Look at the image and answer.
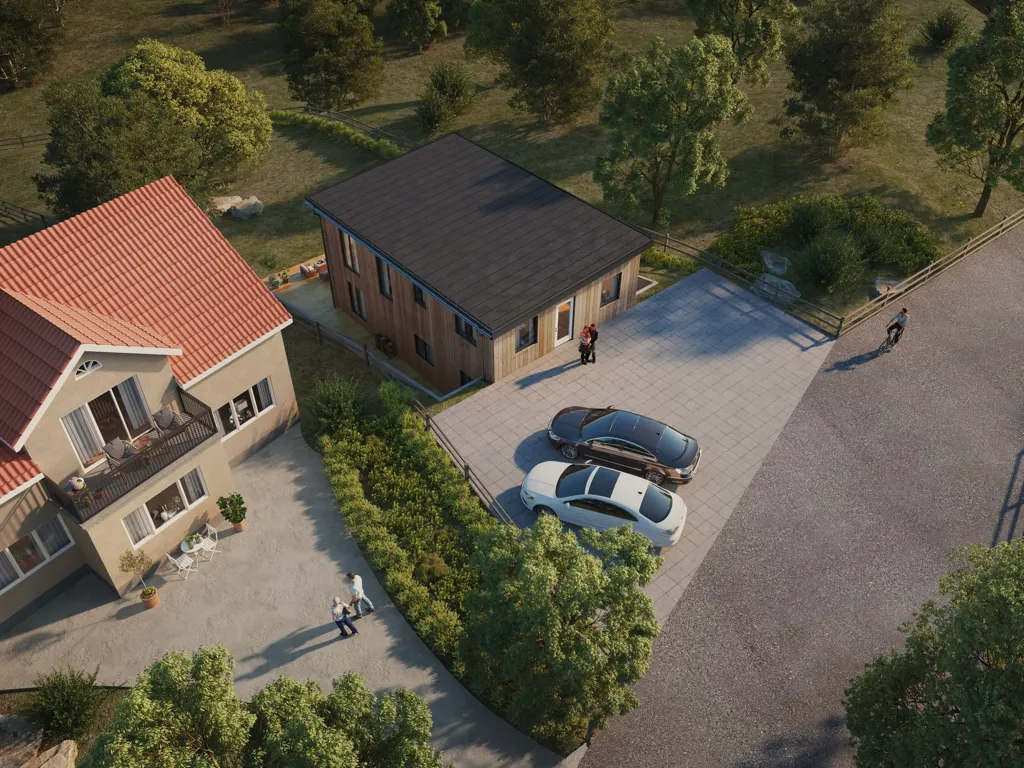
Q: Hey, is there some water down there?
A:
No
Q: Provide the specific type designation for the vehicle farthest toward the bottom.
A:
automobile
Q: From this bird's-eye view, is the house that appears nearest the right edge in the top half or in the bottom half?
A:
top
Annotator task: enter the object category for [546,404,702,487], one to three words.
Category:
car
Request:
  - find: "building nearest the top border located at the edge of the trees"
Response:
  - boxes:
[300,132,655,394]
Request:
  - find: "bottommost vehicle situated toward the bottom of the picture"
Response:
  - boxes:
[518,455,684,544]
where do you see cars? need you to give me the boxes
[518,455,684,544]
[546,404,702,487]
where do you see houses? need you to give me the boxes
[300,132,655,394]
[0,175,301,623]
